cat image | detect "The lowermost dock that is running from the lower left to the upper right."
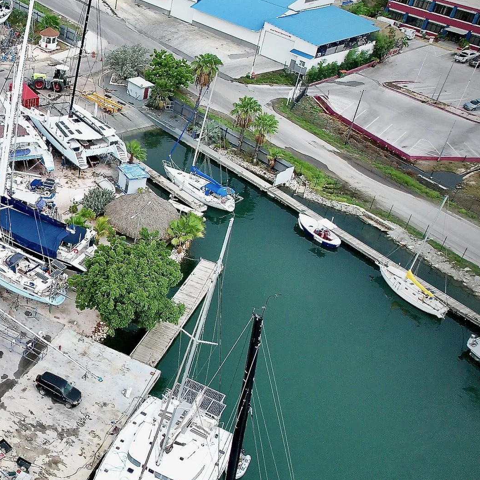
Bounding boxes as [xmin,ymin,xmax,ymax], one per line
[132,258,223,368]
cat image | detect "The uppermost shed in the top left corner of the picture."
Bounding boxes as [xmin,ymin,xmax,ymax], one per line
[33,29,64,57]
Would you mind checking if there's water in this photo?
Yes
